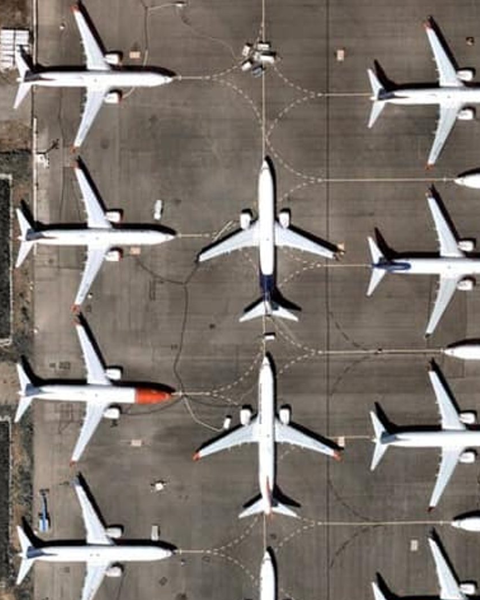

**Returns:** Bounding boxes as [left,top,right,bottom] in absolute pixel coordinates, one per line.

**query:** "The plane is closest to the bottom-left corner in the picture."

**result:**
[14,481,174,600]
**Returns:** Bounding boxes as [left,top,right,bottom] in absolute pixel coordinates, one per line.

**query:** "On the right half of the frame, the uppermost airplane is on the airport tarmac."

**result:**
[367,23,480,171]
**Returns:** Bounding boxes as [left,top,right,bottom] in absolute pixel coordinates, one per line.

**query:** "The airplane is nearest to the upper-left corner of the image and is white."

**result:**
[14,6,174,153]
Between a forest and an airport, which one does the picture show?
airport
